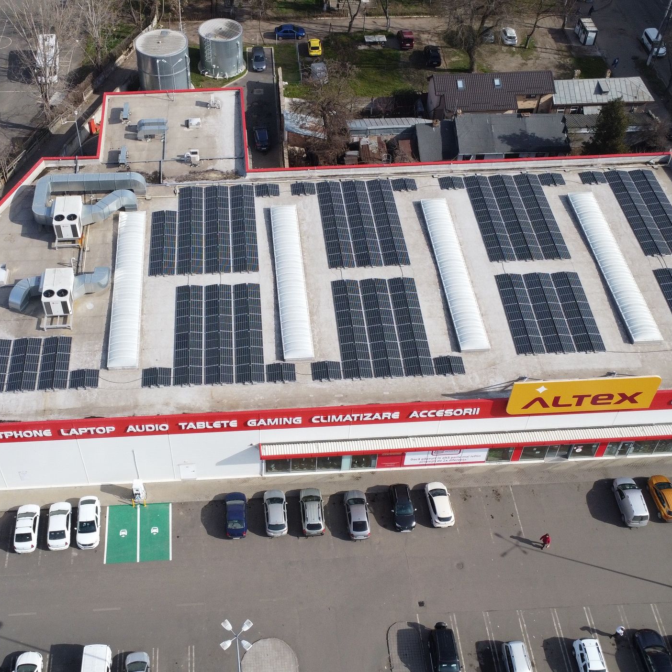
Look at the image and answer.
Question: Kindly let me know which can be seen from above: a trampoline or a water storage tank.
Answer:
water storage tank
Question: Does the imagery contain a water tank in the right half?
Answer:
No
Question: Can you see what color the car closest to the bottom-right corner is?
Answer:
black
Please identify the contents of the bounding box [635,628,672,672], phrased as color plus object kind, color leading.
black car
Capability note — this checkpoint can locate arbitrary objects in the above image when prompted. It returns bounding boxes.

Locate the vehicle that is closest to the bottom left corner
[14,649,43,672]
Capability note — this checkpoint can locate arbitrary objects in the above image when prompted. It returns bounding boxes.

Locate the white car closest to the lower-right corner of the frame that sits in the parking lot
[570,633,611,672]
